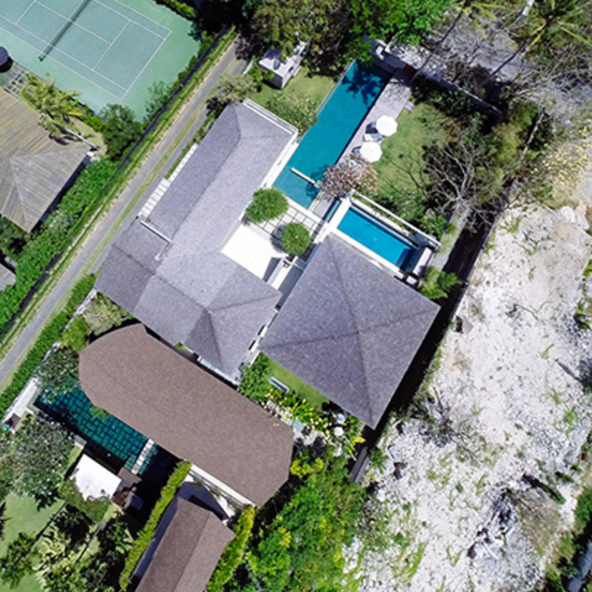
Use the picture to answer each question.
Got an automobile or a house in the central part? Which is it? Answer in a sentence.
Looking in the central part, you will find a house.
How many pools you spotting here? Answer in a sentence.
Altogether the scene contains 3 pools.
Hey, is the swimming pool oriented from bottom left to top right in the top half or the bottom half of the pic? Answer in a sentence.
You can find the swimming pool oriented from bottom left to top right in the top half.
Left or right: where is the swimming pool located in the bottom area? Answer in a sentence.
The swimming pool located in the bottom area is on the left side of the image.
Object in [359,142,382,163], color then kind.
white umbrella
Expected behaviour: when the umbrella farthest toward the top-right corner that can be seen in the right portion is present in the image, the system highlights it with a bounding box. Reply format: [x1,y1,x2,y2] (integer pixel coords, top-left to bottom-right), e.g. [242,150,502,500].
[375,117,397,137]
